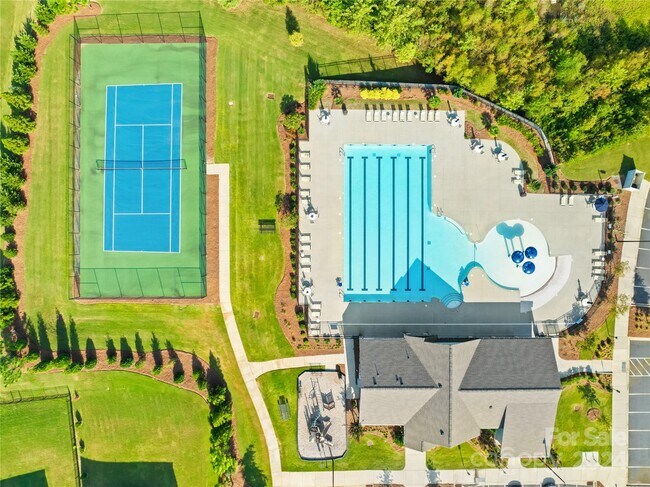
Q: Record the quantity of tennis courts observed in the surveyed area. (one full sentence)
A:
My tally gives 1 tennis court in this photo.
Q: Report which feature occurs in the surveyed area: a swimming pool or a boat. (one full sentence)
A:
There is a swimming pool in the scene.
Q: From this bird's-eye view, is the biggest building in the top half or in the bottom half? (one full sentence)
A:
The biggest building sits in the bottom half of the picture.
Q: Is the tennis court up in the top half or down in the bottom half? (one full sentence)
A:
You can find the tennis court in the top half.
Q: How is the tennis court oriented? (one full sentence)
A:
What the image shows is the tennis court lying vertically.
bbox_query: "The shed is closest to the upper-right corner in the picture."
[623,171,645,190]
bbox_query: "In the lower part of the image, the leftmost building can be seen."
[357,335,564,458]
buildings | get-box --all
[357,335,564,458]
[623,171,645,190]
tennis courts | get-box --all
[79,42,206,298]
